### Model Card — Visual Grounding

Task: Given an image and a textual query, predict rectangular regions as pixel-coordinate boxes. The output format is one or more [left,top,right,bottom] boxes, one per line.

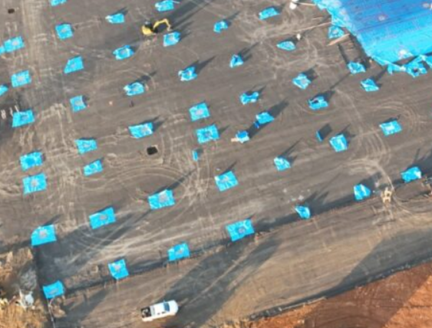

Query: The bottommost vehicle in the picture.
[141,302,178,321]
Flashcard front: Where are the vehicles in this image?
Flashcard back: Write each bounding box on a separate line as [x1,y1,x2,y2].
[141,302,178,321]
[139,13,172,37]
